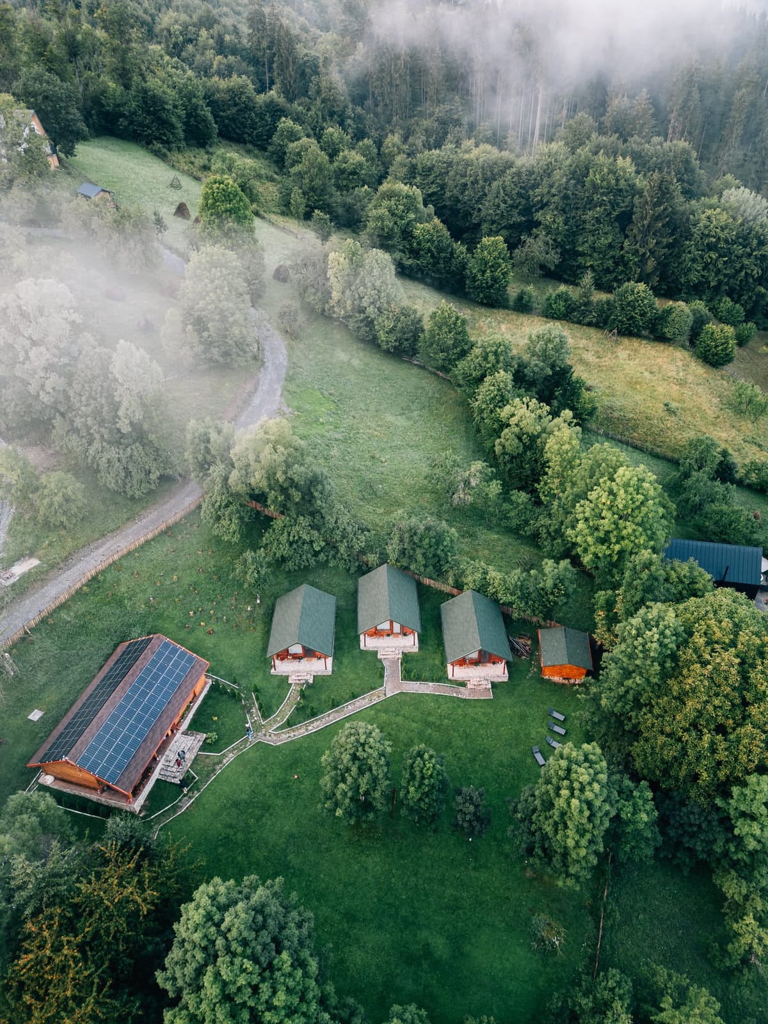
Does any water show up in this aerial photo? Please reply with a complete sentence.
No, there is no water in the image.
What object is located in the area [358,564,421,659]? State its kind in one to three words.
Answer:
building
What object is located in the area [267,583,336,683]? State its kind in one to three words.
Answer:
building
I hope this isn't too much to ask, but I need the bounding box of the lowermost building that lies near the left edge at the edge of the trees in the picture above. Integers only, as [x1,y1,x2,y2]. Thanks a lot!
[25,633,213,812]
